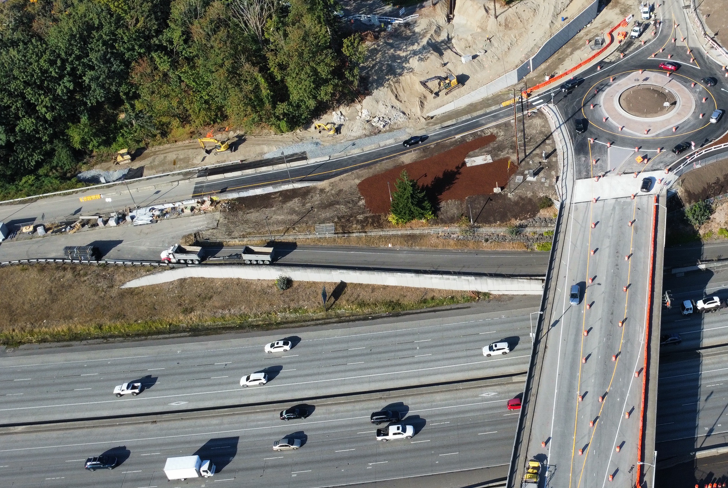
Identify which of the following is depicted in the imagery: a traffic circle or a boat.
traffic circle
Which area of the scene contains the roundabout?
top right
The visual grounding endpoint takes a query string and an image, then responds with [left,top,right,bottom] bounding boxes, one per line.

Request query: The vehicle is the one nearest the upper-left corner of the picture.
[107,147,137,168]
